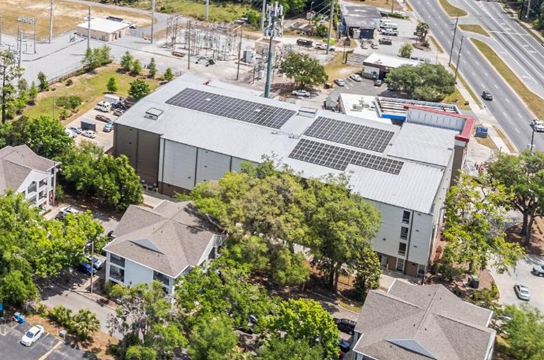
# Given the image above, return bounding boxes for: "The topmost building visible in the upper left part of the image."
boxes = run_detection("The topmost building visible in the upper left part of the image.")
[75,18,134,45]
